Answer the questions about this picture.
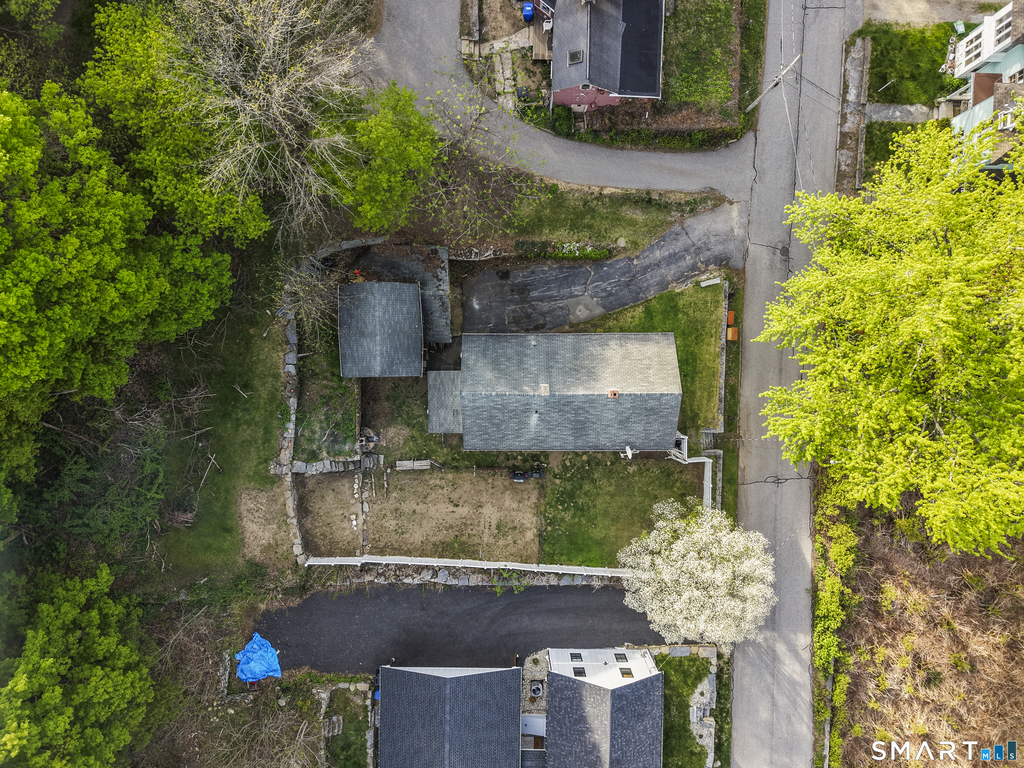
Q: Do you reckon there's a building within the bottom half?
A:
Yes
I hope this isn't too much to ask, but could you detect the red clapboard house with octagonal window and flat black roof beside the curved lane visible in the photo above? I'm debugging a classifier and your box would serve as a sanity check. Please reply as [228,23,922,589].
[529,0,664,116]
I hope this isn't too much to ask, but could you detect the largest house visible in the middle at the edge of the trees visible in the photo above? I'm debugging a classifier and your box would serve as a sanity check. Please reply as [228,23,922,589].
[428,331,688,463]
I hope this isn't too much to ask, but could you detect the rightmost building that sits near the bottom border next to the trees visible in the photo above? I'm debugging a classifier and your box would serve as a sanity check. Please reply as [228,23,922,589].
[521,650,664,768]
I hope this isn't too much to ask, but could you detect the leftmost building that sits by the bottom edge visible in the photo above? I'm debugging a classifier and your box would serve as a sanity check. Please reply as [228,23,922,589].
[378,650,522,768]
